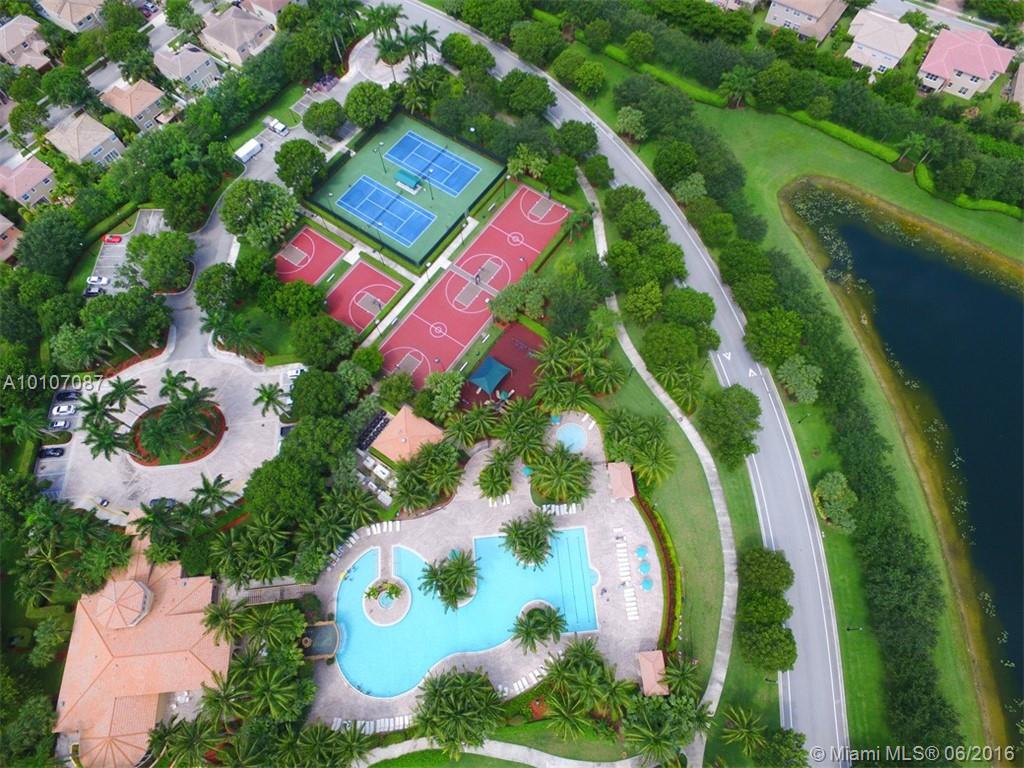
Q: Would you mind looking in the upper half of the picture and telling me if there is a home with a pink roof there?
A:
Yes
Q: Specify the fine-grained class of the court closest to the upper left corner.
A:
basketball court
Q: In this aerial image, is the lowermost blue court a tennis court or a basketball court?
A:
tennis court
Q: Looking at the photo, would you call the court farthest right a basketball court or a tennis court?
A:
basketball court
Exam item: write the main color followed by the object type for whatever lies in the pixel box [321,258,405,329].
red basketball court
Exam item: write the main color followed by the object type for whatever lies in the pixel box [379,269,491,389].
red basketball court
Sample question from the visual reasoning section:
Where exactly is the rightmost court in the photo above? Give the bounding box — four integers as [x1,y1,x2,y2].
[452,183,573,288]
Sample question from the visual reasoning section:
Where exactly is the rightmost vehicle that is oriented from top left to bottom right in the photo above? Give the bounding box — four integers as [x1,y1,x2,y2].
[268,118,286,133]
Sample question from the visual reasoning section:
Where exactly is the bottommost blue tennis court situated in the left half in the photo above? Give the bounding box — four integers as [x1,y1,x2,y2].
[336,175,437,246]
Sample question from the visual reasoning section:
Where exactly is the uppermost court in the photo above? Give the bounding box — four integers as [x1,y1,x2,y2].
[384,130,481,196]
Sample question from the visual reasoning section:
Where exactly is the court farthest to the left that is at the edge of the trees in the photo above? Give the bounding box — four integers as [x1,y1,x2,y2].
[273,224,346,283]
